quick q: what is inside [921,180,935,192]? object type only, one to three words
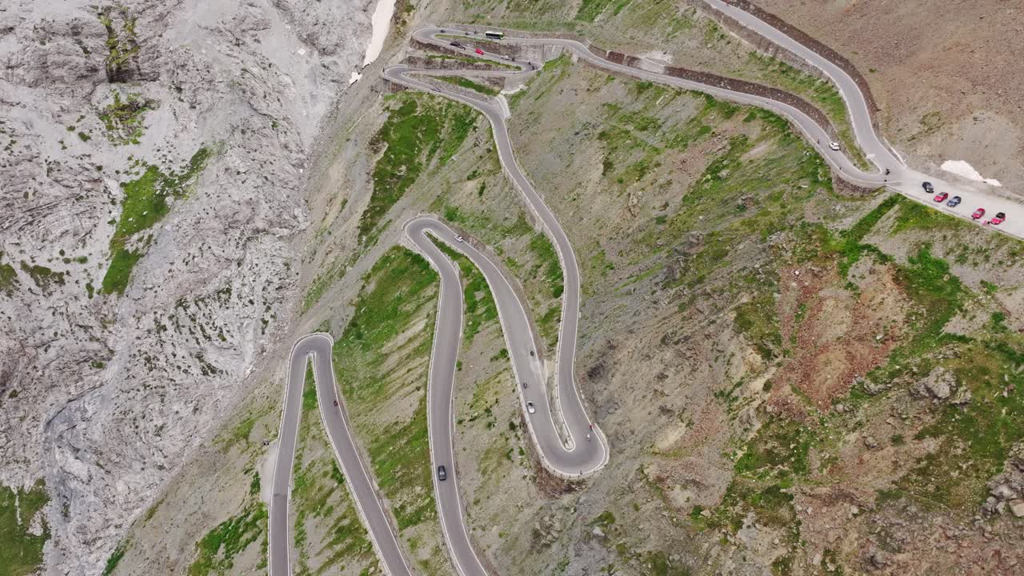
vehicle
